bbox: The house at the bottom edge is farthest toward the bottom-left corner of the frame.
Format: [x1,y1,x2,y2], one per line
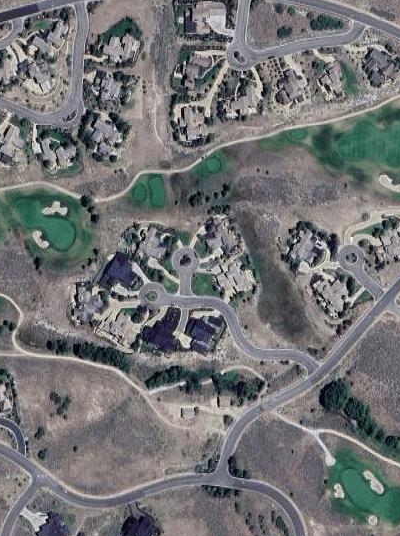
[34,513,70,536]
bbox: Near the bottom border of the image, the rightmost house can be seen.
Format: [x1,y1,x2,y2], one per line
[122,515,158,536]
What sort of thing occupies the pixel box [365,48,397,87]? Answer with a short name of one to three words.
house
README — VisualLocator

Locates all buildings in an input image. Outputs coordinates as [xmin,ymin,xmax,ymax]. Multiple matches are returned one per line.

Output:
[17,58,53,92]
[365,48,397,87]
[0,60,12,80]
[41,140,79,169]
[0,125,25,165]
[98,253,138,290]
[104,34,141,66]
[31,36,54,58]
[41,20,68,44]
[275,69,307,105]
[292,229,320,262]
[76,288,105,322]
[0,378,12,411]
[202,219,237,254]
[313,277,349,312]
[140,229,167,262]
[182,0,225,32]
[213,260,251,301]
[95,70,121,103]
[320,62,348,97]
[221,81,260,117]
[377,224,400,259]
[144,309,180,350]
[122,515,158,536]
[185,315,223,353]
[180,107,210,143]
[180,52,211,91]
[34,513,70,536]
[89,119,123,156]
[102,312,138,350]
